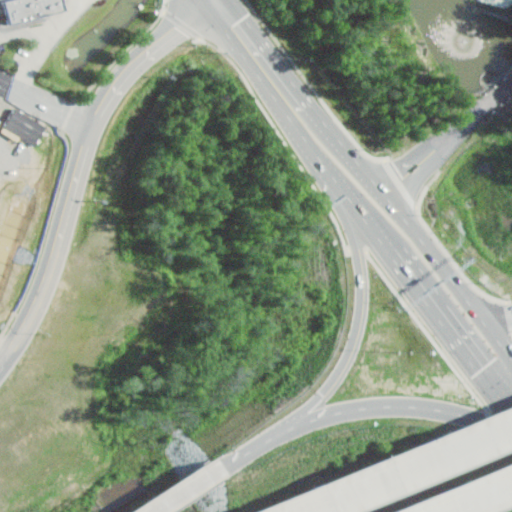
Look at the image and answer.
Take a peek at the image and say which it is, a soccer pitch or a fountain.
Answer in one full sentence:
This aerial view contains a fountain.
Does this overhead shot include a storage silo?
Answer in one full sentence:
No, the frame has no storage silo in it.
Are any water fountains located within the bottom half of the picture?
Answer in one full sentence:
No, there is no water fountain within the bottom half of the picture.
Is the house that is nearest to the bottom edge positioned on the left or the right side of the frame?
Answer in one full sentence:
You can find the house that is nearest to the bottom edge on the left side of the picture.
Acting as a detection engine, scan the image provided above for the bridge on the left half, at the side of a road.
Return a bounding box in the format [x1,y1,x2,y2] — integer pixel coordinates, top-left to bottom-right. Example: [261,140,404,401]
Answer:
[134,454,233,512]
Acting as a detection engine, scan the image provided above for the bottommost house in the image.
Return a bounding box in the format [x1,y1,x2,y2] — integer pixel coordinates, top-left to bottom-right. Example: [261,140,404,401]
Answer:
[4,108,45,146]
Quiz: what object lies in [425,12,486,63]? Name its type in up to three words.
fountain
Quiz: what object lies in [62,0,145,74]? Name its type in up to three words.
pond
